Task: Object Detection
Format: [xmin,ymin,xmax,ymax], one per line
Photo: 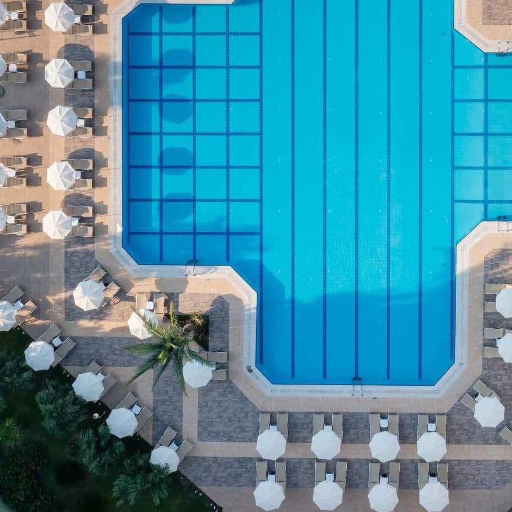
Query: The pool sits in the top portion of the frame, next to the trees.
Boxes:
[122,0,512,386]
